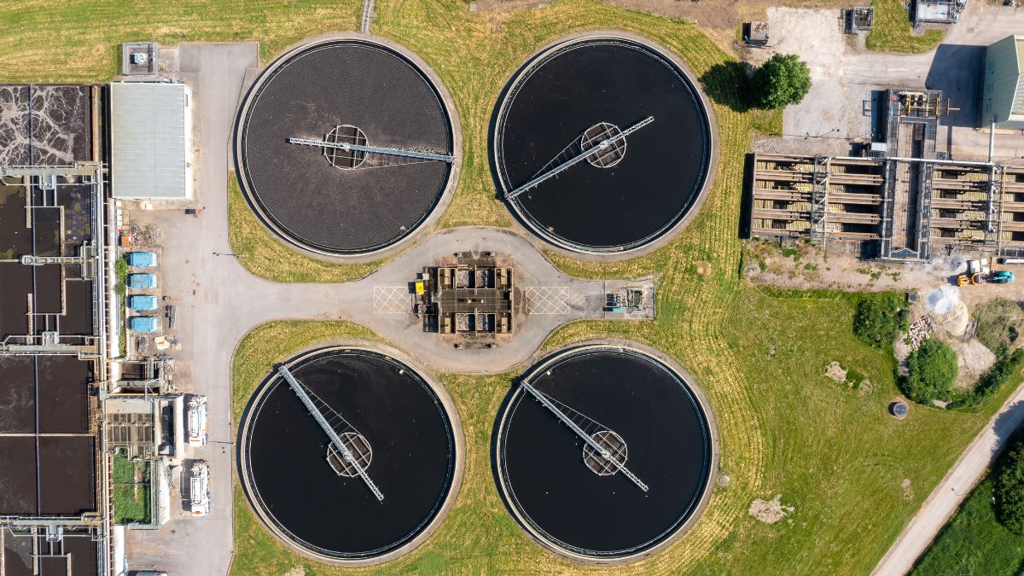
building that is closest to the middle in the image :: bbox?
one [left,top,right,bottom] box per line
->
[423,265,513,334]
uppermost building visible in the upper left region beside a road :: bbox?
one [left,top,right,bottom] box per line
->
[112,82,192,200]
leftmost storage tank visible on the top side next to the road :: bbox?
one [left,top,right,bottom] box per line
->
[233,32,463,263]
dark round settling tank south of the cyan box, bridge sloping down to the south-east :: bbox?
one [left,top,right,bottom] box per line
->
[488,334,719,565]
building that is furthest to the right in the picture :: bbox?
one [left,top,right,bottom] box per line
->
[980,32,1024,127]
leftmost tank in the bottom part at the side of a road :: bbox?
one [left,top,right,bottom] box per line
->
[237,337,467,567]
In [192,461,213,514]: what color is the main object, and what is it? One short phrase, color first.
white truck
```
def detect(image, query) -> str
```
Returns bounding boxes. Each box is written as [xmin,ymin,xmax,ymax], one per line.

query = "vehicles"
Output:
[957,273,983,285]
[190,394,211,446]
[141,571,167,576]
[192,461,213,514]
[978,273,1015,284]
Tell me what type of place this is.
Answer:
industrial area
